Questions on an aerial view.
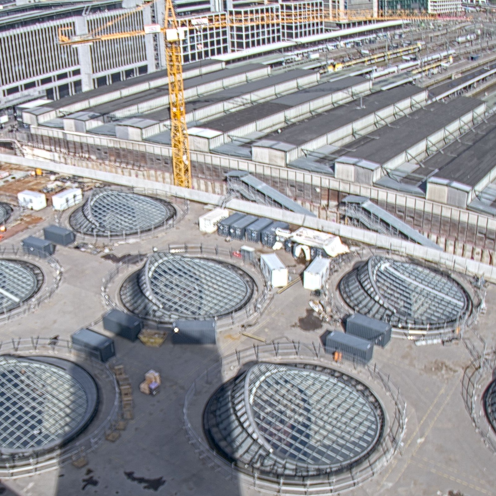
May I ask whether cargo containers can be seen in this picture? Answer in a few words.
Yes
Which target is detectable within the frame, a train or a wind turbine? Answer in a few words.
train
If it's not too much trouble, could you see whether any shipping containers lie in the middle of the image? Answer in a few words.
Yes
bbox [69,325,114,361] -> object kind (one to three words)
shipping container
